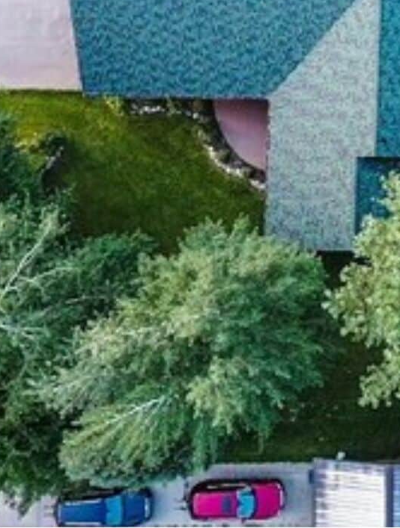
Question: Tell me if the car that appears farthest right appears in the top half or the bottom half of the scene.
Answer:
bottom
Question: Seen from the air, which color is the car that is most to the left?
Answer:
blue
